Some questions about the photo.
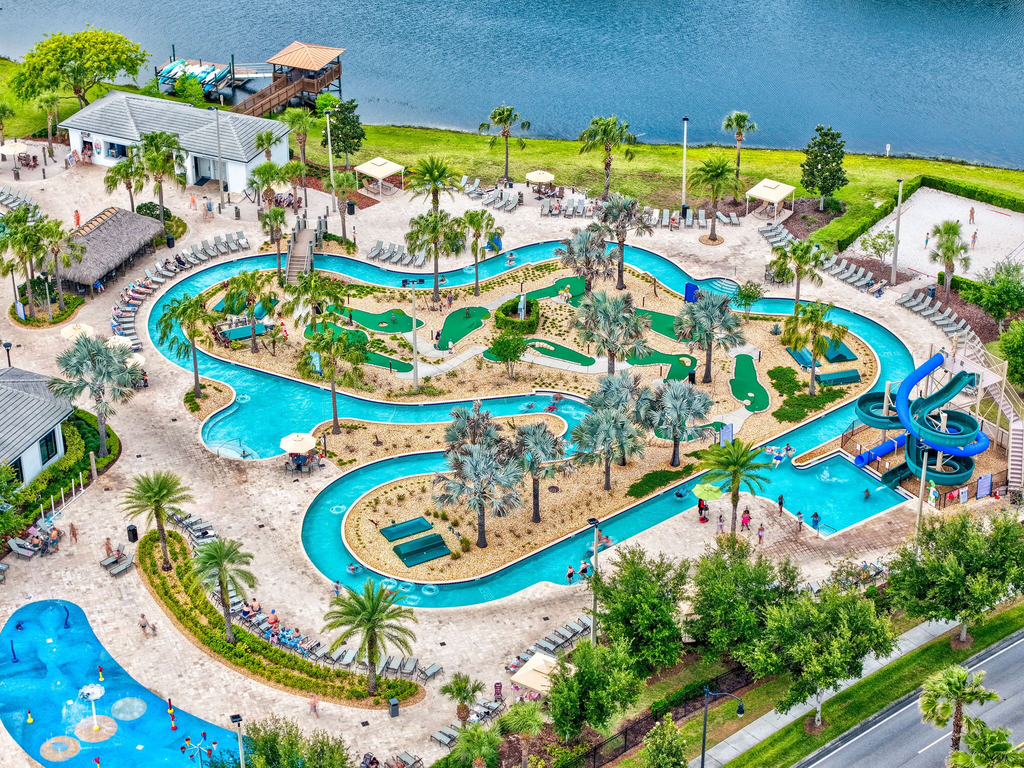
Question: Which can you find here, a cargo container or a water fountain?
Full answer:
Looking from above, you can make out a water fountain.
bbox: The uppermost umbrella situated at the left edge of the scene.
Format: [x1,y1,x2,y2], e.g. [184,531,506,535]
[0,140,31,172]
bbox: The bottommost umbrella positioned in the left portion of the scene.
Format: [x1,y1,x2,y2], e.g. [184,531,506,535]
[276,434,319,458]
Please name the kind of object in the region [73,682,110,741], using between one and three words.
fountain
